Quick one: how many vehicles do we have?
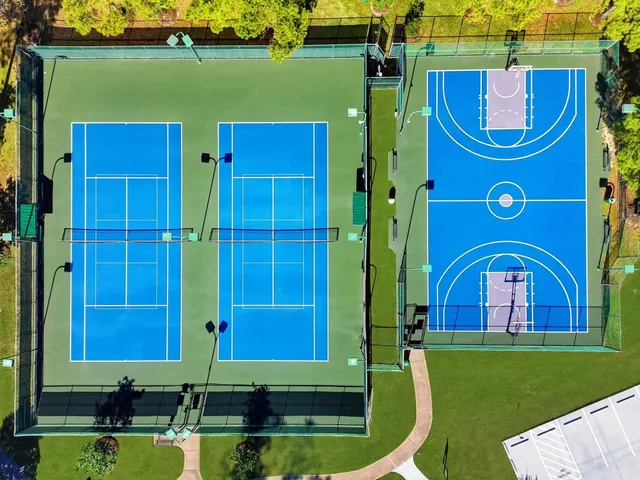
none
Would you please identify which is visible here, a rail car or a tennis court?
tennis court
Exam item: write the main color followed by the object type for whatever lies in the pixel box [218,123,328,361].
blue tennis court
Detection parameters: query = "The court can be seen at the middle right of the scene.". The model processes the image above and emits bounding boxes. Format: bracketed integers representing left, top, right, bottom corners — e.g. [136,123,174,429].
[428,69,588,332]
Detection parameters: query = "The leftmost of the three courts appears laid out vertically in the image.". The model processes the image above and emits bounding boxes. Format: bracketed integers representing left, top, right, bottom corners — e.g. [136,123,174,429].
[71,123,181,361]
